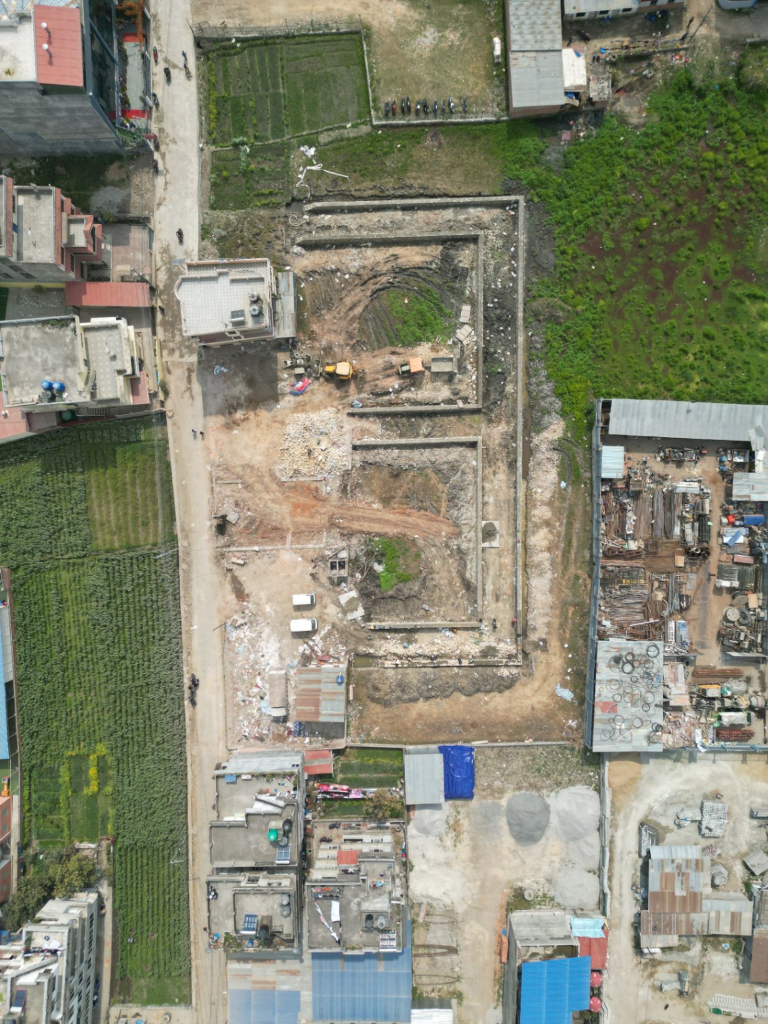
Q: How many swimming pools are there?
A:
0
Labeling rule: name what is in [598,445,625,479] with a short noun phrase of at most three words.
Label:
shed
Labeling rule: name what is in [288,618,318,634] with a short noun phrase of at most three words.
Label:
vehicle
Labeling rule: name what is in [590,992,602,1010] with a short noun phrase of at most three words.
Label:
umbrella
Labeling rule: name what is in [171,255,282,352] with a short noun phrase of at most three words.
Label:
house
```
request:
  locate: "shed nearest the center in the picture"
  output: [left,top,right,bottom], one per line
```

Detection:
[295,663,347,722]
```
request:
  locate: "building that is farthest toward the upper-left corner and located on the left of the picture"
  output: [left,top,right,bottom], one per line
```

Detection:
[0,0,127,145]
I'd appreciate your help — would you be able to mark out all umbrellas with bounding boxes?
[590,992,602,1010]
[590,969,602,985]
